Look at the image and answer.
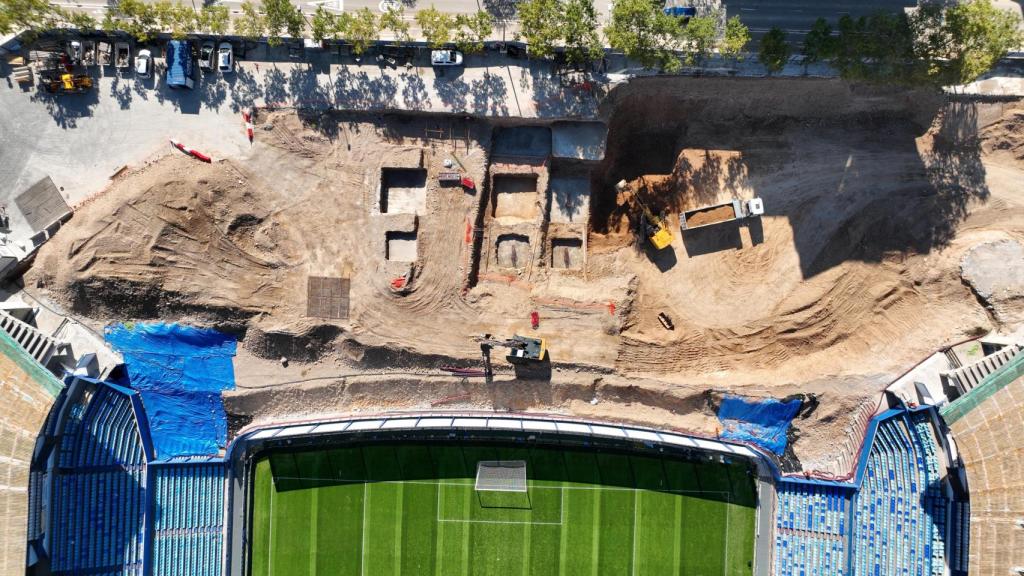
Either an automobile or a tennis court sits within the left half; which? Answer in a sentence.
It is an automobile that can be seen within the left half.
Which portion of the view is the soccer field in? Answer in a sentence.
The soccer field is located in the bottom region of the scene.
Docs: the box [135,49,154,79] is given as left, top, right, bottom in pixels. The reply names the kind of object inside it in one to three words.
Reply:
car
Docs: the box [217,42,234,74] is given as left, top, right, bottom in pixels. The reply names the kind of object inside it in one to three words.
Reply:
car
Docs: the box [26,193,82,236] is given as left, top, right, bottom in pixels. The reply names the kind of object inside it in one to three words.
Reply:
building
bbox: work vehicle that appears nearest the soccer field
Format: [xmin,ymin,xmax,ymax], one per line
[484,333,546,360]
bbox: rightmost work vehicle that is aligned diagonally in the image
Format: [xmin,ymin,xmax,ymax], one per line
[617,183,676,254]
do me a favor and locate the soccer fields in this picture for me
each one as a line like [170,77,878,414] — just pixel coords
[253,443,757,576]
